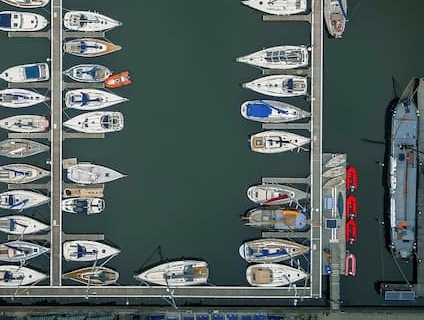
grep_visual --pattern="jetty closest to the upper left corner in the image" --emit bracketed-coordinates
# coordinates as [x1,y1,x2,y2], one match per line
[8,0,105,286]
